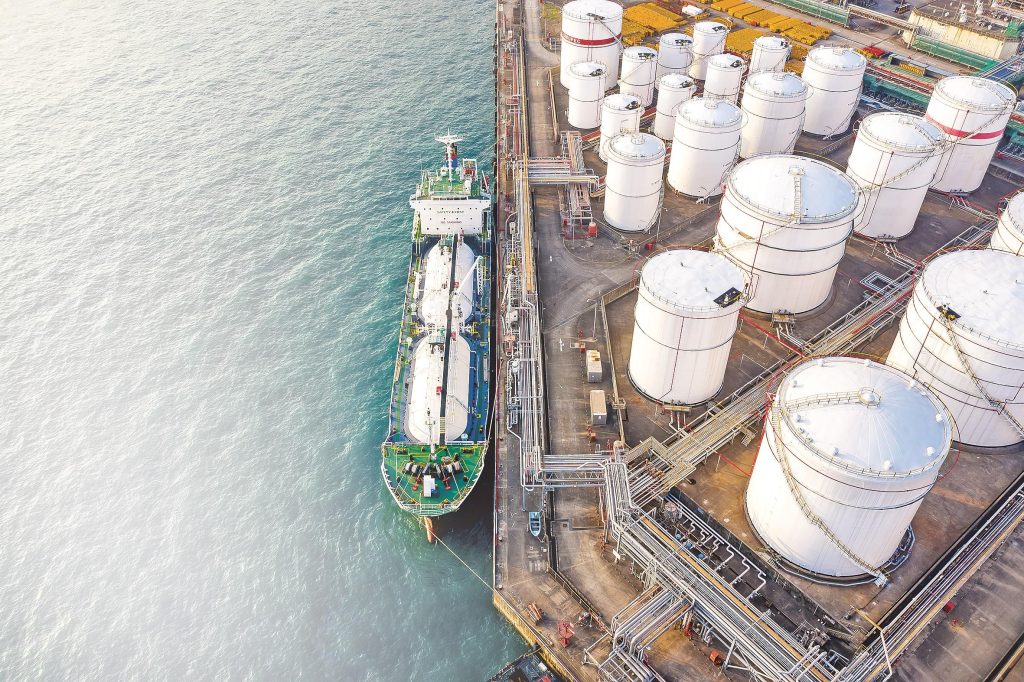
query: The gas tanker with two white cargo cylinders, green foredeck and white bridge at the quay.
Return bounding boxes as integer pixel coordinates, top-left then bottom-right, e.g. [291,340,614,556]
[379,129,491,544]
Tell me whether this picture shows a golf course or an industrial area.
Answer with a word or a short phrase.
industrial area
